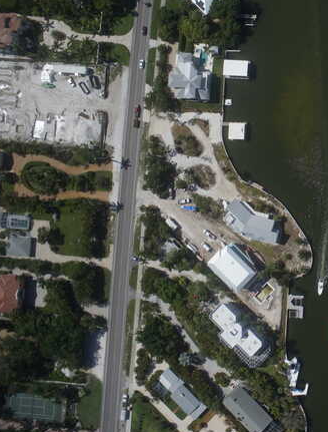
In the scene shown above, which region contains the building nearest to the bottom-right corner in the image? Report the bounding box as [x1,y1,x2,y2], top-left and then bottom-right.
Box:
[224,385,283,432]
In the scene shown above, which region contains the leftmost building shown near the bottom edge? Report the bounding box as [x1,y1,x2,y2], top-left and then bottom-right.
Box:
[152,369,206,419]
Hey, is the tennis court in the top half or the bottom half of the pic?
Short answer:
bottom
